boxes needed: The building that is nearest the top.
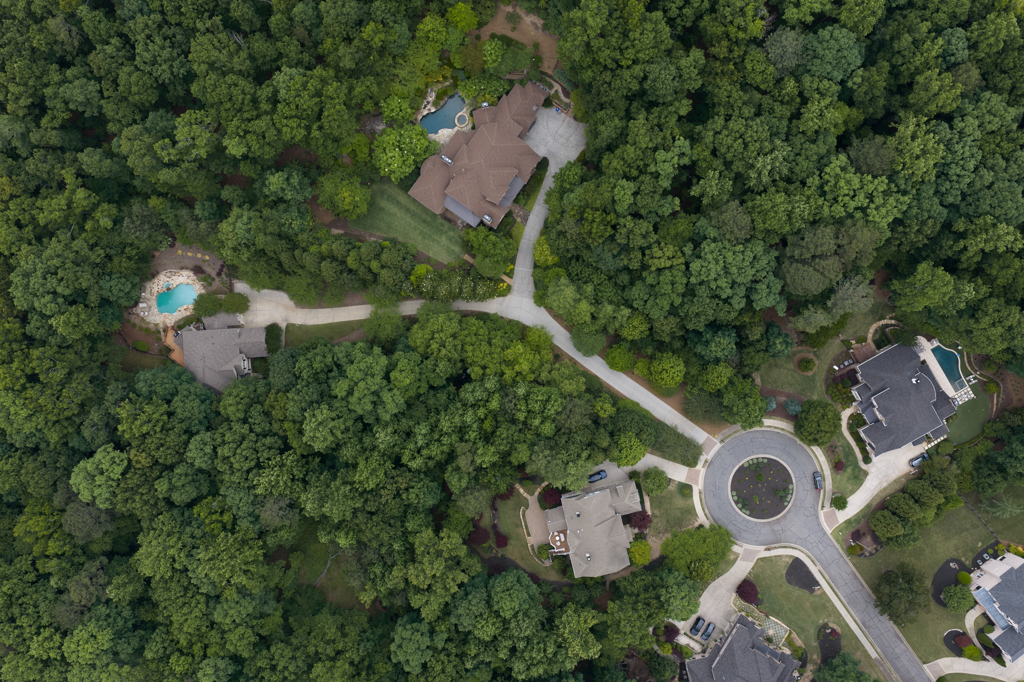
[408,80,550,228]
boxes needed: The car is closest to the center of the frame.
[589,471,607,484]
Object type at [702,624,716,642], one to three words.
car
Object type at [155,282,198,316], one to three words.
swimming pool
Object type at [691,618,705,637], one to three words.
car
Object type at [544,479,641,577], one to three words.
house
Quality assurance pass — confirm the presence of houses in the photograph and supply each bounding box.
[408,80,550,228]
[544,479,641,577]
[160,307,271,396]
[848,341,960,458]
[965,539,1024,664]
[685,607,802,682]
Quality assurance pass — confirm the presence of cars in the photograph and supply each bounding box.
[589,471,607,484]
[814,473,825,491]
[702,624,716,642]
[691,618,705,637]
[911,453,928,469]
